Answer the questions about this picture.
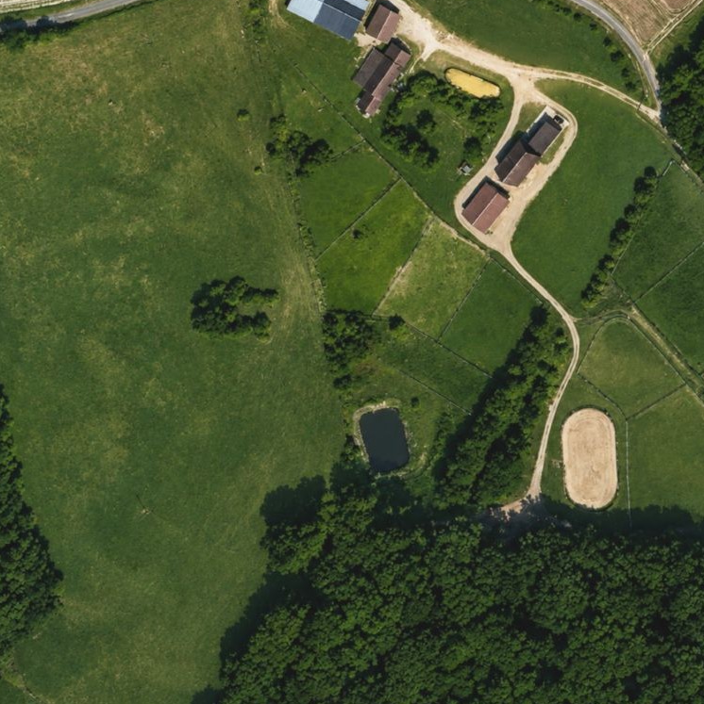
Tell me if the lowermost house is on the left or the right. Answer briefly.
right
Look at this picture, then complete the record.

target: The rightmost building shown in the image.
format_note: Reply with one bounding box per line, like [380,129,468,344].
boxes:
[494,122,561,186]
